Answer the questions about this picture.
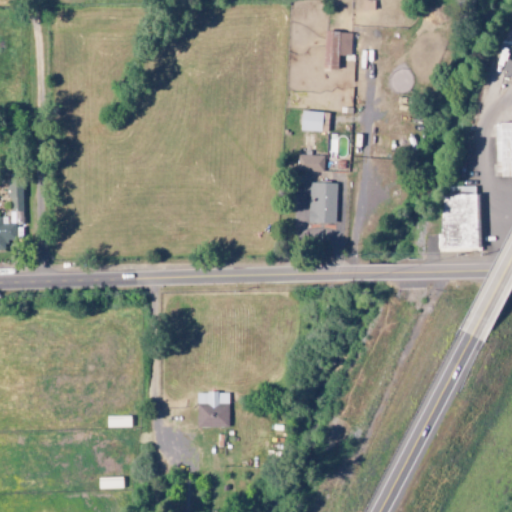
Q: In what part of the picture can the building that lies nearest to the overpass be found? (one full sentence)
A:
The building that lies nearest to the overpass is in the right part of the image.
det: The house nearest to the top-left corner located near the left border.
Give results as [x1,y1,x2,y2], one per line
[10,178,24,212]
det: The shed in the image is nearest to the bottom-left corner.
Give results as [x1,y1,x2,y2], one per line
[100,476,124,490]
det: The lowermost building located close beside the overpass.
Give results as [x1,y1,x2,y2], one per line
[439,194,482,250]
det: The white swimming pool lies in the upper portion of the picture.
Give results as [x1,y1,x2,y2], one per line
[331,134,350,158]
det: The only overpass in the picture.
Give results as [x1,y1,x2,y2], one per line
[461,230,512,345]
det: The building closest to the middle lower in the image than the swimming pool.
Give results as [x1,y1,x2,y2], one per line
[310,182,338,228]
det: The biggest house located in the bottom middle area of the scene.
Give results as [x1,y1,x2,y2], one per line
[198,390,230,428]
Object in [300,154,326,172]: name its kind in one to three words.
house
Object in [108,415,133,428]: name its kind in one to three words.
shed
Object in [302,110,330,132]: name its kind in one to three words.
barn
